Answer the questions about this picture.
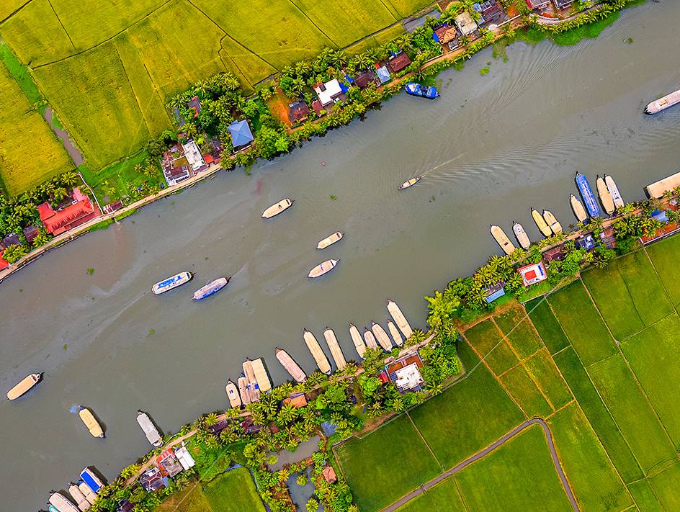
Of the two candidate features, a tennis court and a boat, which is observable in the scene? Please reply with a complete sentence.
I can see a boat in this picture.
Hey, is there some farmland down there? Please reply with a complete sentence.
Yes, farmland can be seen from above here.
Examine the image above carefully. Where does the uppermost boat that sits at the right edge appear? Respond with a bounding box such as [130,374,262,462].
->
[642,91,680,113]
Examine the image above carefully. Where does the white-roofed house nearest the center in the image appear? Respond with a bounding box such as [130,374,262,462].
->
[383,350,423,395]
